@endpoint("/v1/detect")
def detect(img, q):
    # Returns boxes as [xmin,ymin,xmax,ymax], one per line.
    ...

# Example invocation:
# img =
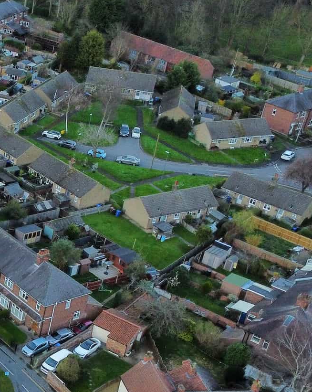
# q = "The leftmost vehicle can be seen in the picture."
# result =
[19,335,50,357]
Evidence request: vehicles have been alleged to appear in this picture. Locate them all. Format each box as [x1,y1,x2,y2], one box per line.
[19,335,50,357]
[86,149,108,160]
[116,156,141,167]
[132,126,141,138]
[47,331,69,350]
[72,338,102,358]
[42,130,63,140]
[44,348,73,369]
[279,149,297,160]
[56,139,79,150]
[120,124,130,135]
